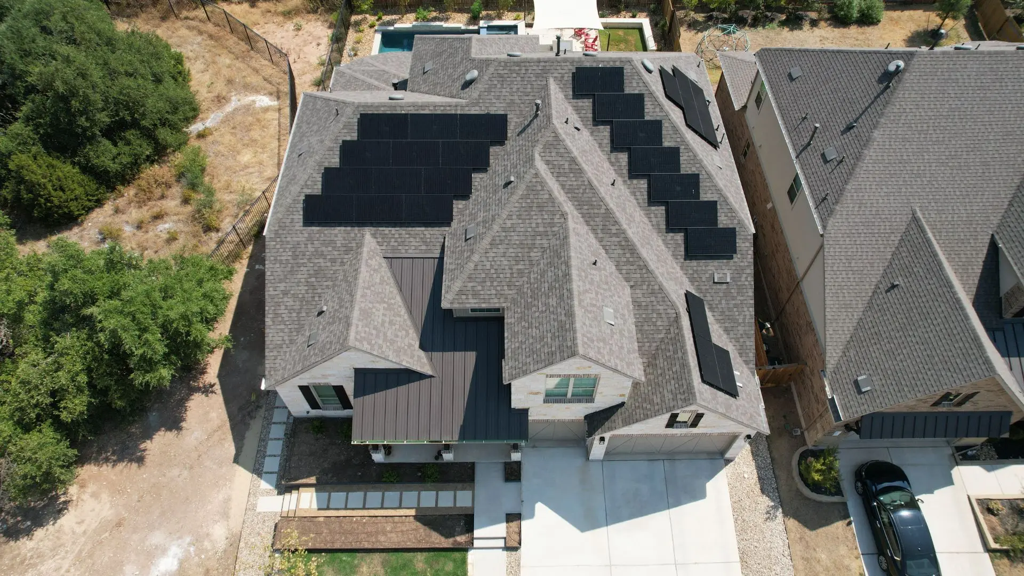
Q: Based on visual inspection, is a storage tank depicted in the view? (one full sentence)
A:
No, there is no storage tank in the image.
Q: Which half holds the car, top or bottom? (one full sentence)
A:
It is in the bottom half that the car appears.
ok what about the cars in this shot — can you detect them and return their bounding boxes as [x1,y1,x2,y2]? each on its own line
[856,462,949,576]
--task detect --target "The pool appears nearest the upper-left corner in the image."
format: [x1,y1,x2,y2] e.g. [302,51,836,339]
[370,19,480,55]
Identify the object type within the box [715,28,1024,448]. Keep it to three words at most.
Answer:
house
